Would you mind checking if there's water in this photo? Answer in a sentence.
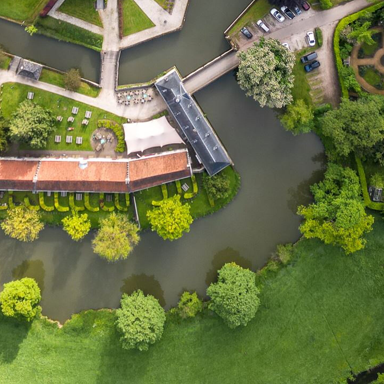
Yes, water shows up in the scene.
